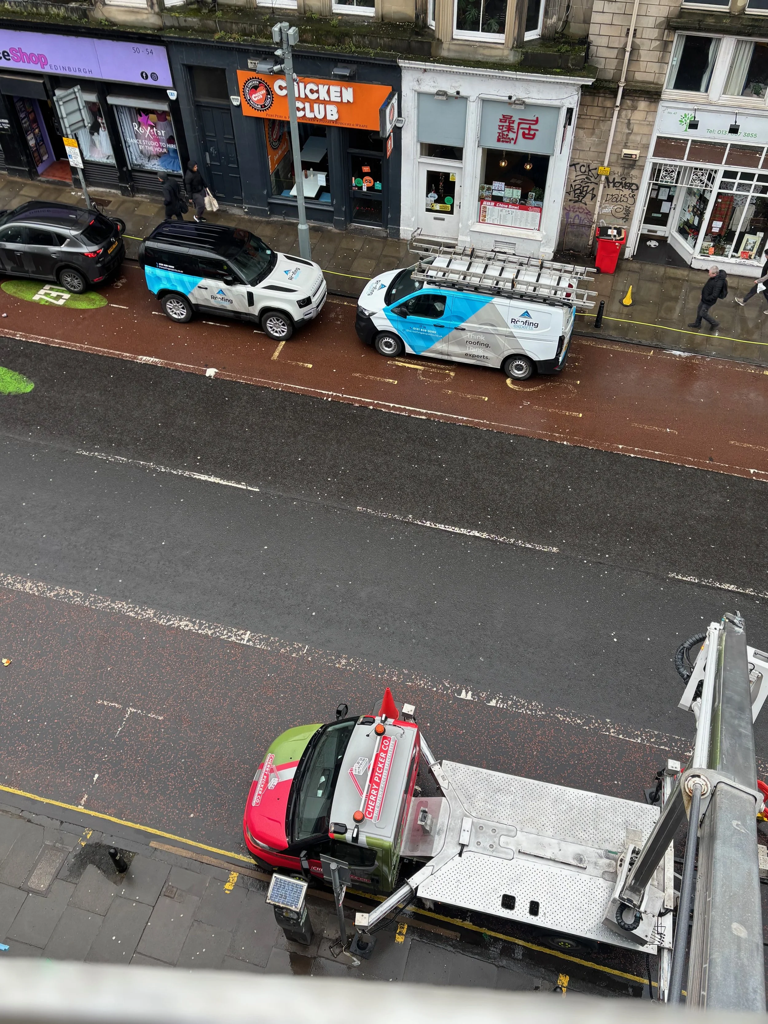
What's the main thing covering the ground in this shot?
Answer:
paved ground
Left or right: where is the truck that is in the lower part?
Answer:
right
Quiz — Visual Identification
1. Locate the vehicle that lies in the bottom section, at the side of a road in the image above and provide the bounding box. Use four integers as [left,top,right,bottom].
[245,609,768,1010]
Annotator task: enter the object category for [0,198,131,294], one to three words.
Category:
car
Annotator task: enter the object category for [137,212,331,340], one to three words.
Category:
car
